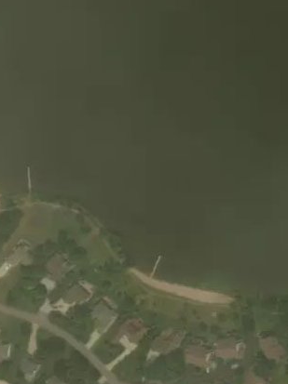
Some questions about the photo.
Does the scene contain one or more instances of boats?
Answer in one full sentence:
No, I can't see a single boat in this photo.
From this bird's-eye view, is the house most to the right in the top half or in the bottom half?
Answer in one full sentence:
It is in the bottom half that the house most to the right appears.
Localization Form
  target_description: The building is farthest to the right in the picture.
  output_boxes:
[255,333,286,361]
